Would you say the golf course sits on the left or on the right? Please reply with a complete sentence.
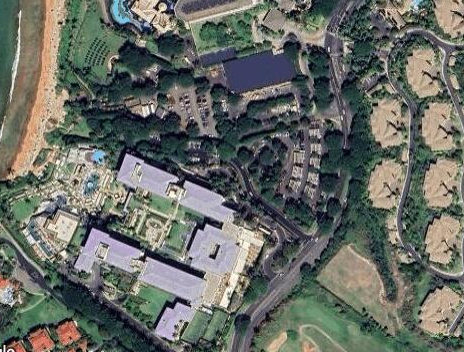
The golf course is on the right side of the image.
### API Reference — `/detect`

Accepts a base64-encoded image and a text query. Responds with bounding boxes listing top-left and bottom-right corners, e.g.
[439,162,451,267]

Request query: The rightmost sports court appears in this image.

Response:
[203,310,230,341]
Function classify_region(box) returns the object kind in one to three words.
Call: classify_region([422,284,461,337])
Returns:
house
